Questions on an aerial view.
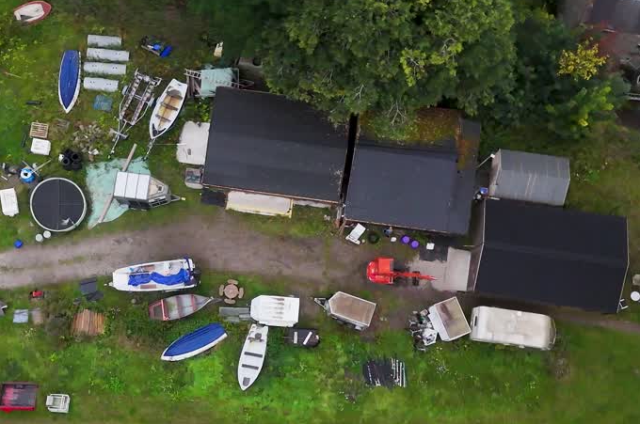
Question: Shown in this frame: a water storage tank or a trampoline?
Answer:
water storage tank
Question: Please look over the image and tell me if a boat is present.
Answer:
Yes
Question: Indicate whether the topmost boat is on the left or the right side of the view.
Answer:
left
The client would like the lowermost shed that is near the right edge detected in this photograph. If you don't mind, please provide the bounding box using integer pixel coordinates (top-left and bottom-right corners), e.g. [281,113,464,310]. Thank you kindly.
[466,198,629,314]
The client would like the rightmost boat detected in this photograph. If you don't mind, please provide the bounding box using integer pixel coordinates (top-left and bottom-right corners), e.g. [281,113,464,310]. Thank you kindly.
[238,323,269,391]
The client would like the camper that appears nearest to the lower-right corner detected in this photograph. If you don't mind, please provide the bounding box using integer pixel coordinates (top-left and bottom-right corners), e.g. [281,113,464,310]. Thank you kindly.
[468,308,559,350]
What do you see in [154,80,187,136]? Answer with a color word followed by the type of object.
white boat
